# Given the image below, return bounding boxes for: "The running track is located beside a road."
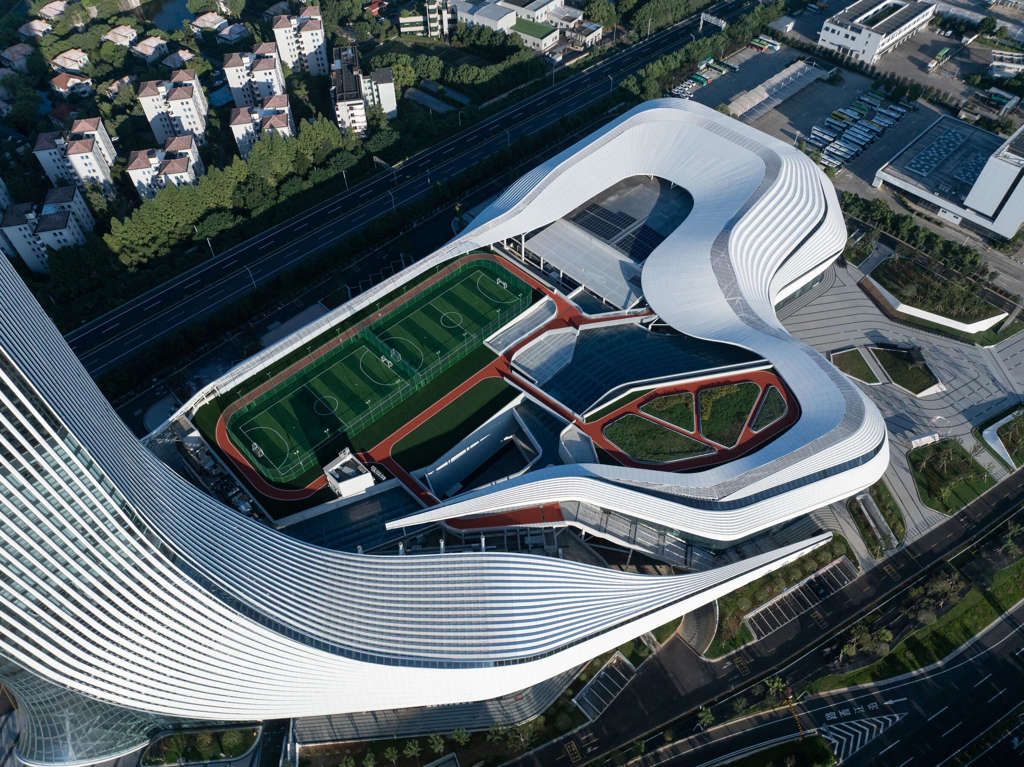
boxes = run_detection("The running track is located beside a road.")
[216,254,553,499]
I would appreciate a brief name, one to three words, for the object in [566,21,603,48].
building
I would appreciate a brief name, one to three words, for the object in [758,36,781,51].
vehicle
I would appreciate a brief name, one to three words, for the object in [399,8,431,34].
building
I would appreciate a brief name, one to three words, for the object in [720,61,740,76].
vehicle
